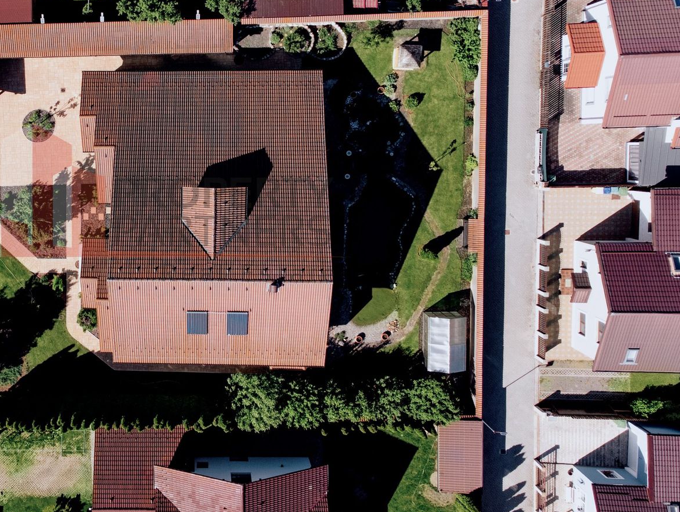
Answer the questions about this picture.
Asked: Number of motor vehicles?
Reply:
0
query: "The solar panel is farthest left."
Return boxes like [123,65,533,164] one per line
[187,312,208,336]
